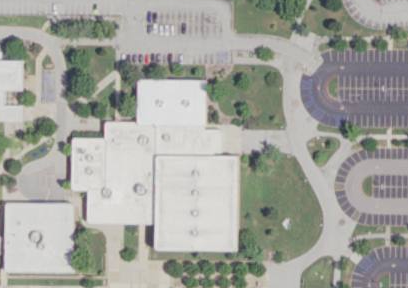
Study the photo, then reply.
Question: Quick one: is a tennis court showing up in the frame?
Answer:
No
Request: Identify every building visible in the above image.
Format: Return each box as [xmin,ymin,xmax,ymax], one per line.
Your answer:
[72,80,238,252]
[4,202,75,274]
[0,51,24,123]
